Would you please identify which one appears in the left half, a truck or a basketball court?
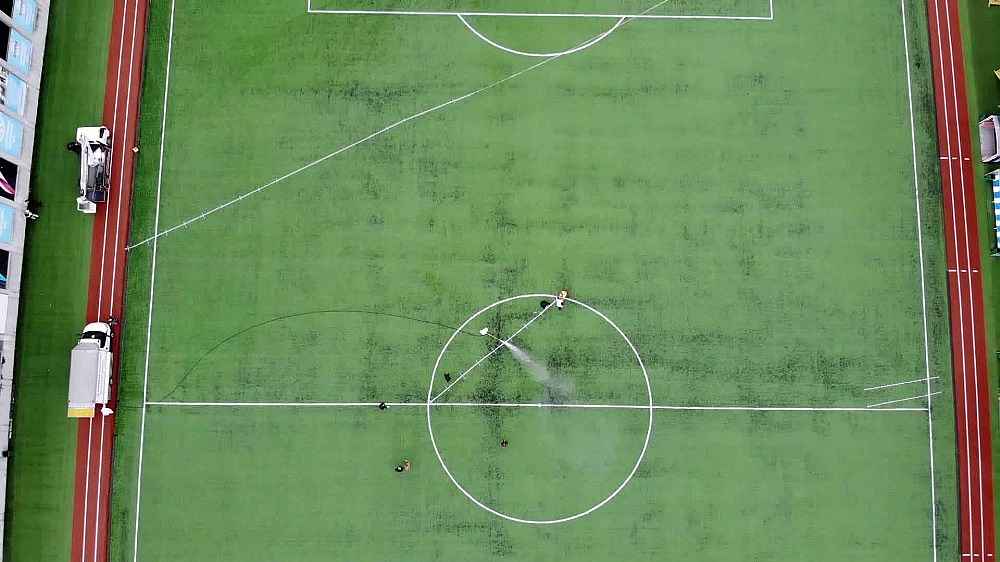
truck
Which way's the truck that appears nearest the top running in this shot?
vertically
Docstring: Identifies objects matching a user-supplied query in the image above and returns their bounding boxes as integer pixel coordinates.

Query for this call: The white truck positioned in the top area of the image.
[75,128,113,212]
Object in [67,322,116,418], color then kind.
white truck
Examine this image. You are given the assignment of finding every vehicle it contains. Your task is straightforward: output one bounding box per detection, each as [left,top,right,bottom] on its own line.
[67,322,116,418]
[75,128,113,212]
